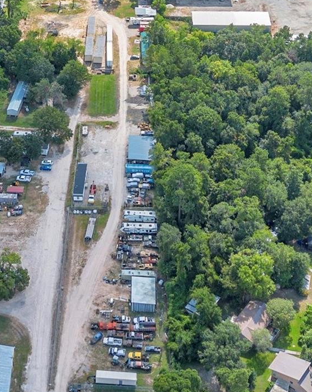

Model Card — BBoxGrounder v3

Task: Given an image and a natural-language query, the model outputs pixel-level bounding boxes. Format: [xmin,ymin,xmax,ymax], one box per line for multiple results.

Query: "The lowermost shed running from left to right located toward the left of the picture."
[95,370,137,384]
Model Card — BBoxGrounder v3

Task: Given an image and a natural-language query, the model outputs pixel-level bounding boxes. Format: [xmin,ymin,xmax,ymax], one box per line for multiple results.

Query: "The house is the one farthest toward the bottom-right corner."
[268,349,312,392]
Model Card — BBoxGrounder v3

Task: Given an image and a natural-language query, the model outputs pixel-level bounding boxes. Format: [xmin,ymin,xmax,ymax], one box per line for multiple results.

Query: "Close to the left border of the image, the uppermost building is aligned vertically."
[7,79,27,118]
